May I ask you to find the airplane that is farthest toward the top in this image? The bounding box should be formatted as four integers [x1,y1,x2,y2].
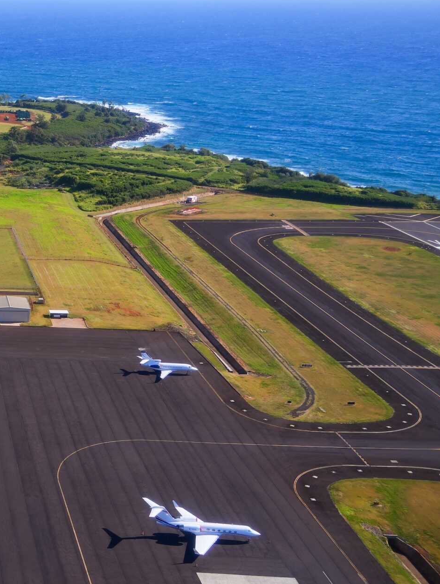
[142,352,198,377]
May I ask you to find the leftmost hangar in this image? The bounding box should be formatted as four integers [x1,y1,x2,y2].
[0,298,31,322]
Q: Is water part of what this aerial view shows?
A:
Yes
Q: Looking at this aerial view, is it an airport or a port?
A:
airport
